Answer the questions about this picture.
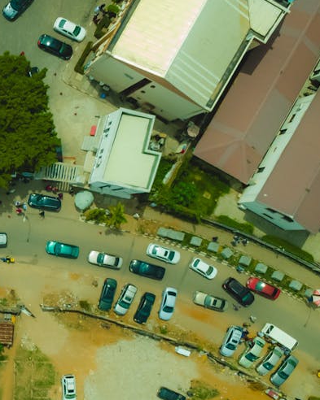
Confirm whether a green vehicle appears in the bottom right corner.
Yes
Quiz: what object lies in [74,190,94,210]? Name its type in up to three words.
umbrella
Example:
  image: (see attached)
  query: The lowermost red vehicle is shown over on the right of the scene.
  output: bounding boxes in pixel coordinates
[243,276,282,301]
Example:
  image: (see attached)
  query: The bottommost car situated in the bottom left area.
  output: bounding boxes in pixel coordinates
[60,373,78,400]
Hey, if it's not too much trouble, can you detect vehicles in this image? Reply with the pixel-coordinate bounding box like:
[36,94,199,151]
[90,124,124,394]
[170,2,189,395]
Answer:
[45,241,80,258]
[60,373,78,400]
[36,31,73,61]
[86,251,123,268]
[243,276,282,301]
[3,0,29,21]
[26,192,63,211]
[186,255,218,280]
[157,286,177,321]
[217,324,245,357]
[144,245,181,264]
[218,276,257,307]
[190,292,228,311]
[133,290,155,325]
[127,260,169,279]
[269,353,299,388]
[238,335,265,369]
[254,344,284,377]
[98,277,118,312]
[259,322,304,353]
[51,16,87,43]
[154,385,188,400]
